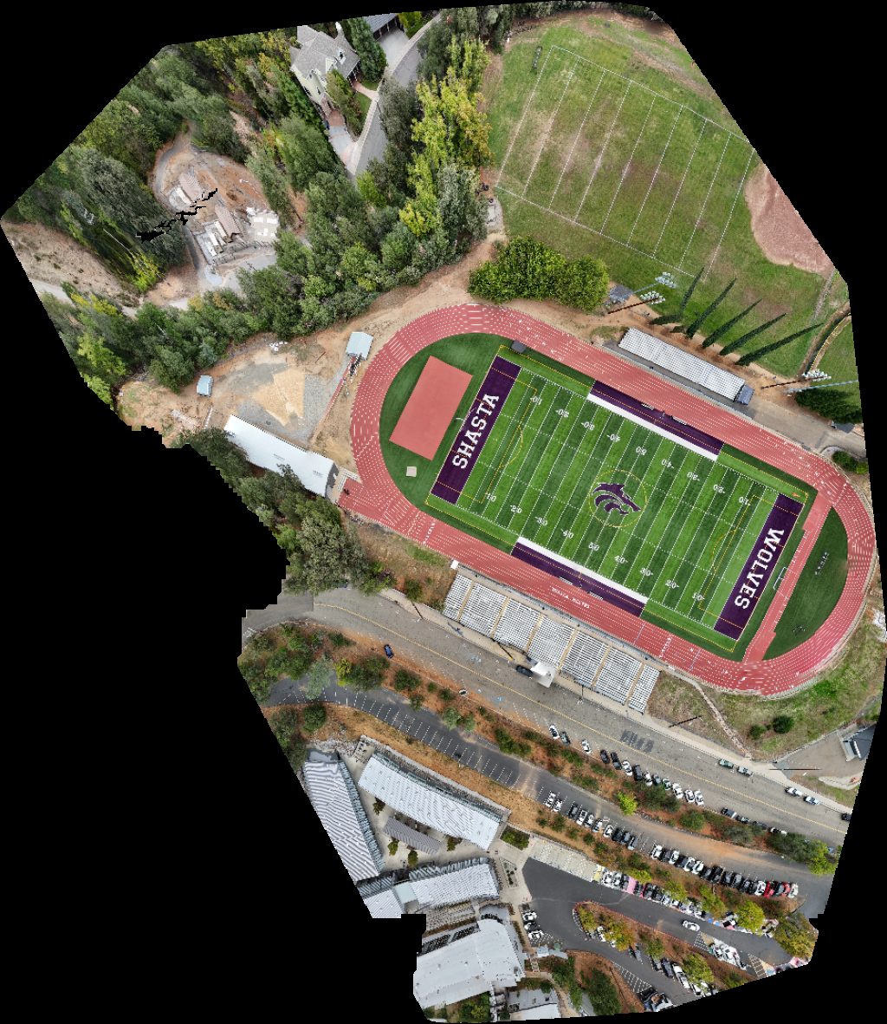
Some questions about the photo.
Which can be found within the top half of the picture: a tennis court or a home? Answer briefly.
home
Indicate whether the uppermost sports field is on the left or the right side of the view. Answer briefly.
right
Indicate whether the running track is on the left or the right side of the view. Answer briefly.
right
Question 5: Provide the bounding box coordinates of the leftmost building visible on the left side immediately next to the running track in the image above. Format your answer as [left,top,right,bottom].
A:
[220,414,335,496]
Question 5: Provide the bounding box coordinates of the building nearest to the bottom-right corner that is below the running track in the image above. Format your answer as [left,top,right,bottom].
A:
[839,723,874,762]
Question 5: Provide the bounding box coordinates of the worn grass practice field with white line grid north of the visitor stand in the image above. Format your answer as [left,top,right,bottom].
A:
[488,15,828,381]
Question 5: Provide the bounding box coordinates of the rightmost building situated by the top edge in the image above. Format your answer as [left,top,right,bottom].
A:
[365,6,396,41]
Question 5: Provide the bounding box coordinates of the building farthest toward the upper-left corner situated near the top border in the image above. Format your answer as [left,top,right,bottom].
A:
[292,21,361,103]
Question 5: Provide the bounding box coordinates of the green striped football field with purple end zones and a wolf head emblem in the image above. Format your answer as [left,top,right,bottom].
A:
[379,333,850,661]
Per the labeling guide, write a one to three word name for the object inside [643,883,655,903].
vehicle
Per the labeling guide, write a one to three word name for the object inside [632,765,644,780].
vehicle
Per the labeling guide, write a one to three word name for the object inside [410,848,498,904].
building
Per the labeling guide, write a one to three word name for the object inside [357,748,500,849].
building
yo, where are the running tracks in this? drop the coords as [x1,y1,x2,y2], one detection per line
[339,304,876,695]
